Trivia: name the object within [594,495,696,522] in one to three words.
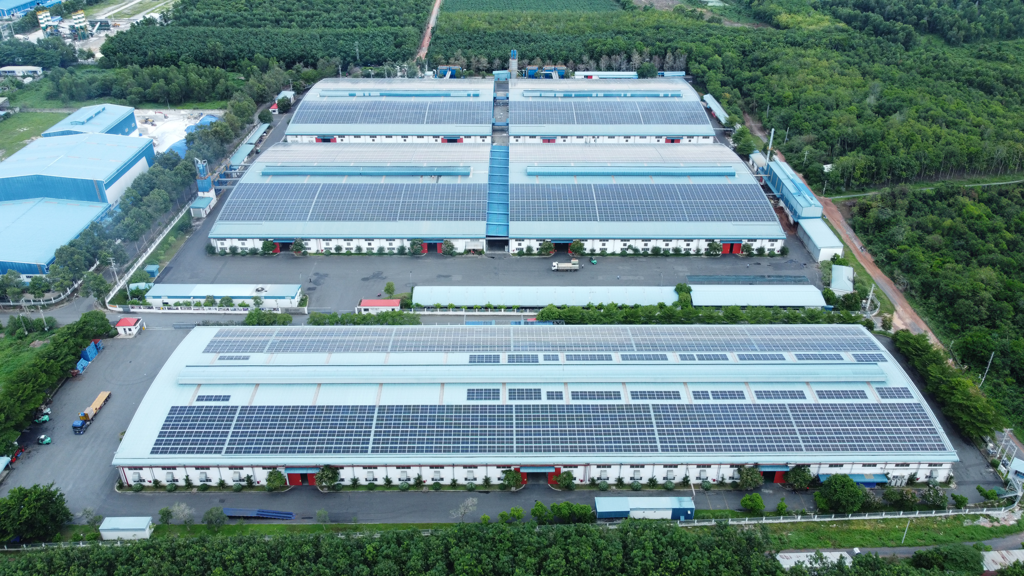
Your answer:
building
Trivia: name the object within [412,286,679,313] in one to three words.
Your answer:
shed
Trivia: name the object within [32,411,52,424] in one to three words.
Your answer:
vehicle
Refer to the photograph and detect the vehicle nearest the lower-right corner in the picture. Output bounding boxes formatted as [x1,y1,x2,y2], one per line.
[853,542,865,561]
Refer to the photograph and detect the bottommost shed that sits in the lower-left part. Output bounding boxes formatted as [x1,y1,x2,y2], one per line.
[100,518,153,538]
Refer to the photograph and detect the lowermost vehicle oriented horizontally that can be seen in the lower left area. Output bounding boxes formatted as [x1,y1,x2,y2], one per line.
[218,505,295,521]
